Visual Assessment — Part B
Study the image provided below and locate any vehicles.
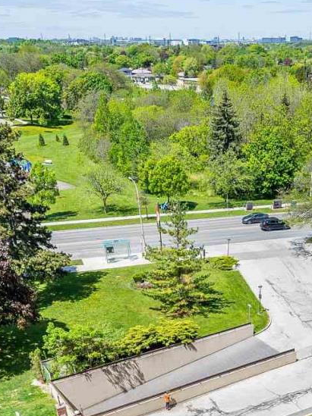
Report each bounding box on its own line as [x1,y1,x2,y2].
[260,217,291,231]
[242,211,270,224]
